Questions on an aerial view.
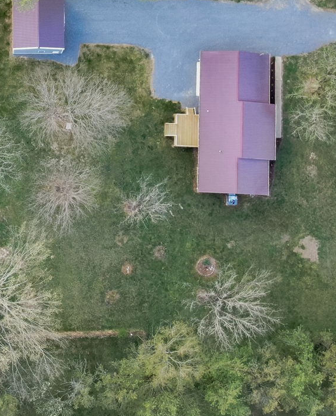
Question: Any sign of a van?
No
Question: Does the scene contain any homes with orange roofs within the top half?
No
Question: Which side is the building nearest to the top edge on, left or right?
left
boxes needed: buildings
[164,49,277,193]
[12,0,64,53]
